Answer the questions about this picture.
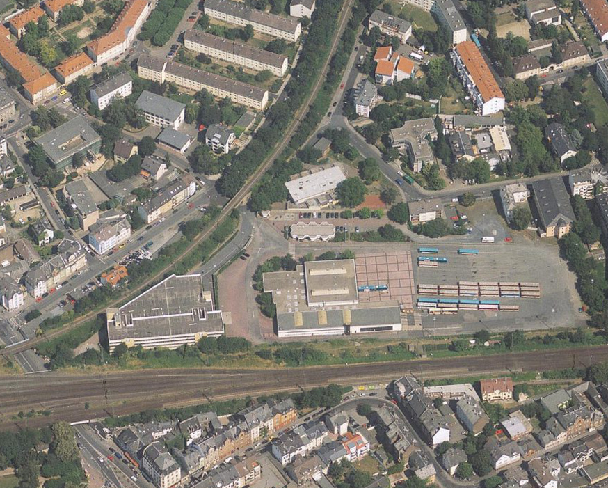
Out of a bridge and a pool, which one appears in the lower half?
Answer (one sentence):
There is a bridge in the lower half.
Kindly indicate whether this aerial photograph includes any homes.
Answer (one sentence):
Yes, a home can be made out from above.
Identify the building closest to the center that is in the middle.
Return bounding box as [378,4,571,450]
[290,223,335,241]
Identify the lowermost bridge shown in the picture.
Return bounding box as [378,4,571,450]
[21,371,101,424]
